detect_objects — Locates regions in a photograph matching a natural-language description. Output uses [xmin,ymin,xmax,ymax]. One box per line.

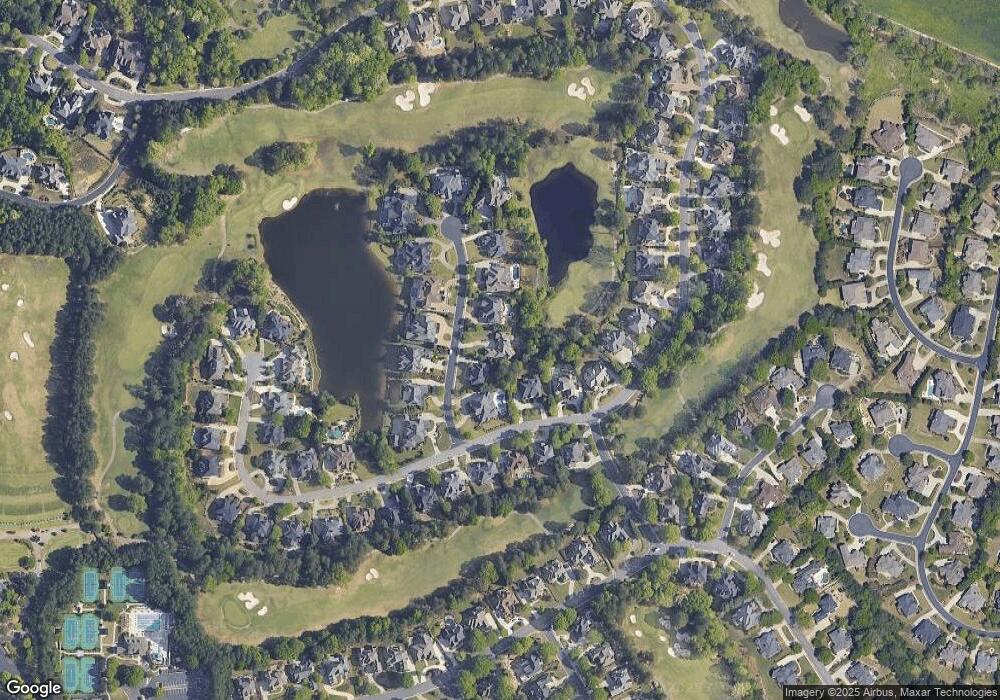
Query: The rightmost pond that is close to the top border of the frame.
[776,0,852,62]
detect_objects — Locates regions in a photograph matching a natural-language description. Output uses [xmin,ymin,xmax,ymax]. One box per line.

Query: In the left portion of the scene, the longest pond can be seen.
[260,187,393,433]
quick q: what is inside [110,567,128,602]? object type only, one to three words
tennis court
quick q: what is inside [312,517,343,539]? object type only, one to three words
house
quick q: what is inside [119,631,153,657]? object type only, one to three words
building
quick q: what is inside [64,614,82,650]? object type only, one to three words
tennis court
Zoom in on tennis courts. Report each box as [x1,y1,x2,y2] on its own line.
[81,657,100,693]
[110,567,128,602]
[82,567,100,602]
[64,657,82,693]
[81,614,100,650]
[64,614,82,650]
